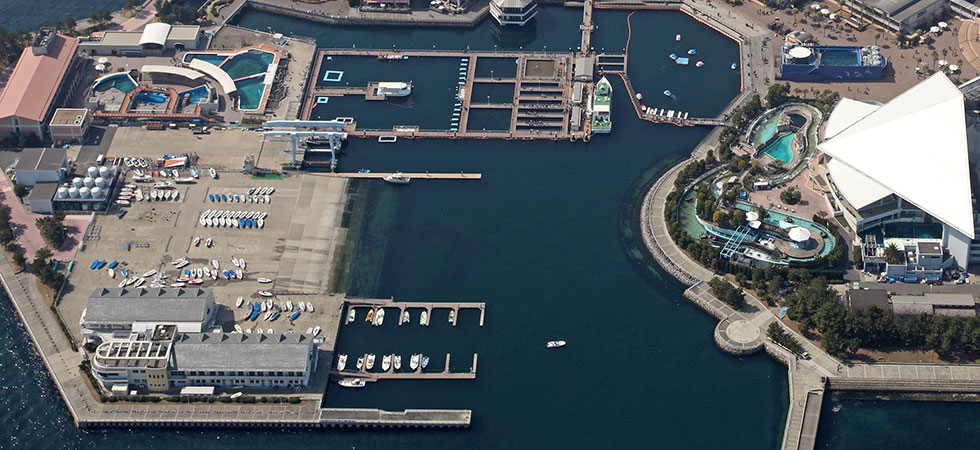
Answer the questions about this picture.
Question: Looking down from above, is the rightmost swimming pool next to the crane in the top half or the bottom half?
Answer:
top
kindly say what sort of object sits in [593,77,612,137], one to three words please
ship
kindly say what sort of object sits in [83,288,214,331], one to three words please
building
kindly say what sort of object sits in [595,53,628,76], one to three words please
pier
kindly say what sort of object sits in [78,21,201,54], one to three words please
building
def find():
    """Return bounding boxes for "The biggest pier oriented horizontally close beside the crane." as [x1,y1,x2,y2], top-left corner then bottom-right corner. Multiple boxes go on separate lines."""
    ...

[303,48,583,140]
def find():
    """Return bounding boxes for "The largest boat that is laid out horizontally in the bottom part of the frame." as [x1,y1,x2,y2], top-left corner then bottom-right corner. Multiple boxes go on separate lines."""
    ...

[338,379,367,392]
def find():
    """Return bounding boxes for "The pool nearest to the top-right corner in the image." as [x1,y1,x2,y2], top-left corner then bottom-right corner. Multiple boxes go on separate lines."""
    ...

[821,49,858,66]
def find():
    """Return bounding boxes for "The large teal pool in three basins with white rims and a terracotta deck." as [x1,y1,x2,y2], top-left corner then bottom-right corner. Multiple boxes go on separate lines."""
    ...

[182,44,284,119]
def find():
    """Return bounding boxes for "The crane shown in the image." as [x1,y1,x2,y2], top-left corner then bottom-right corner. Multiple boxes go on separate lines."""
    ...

[262,118,350,171]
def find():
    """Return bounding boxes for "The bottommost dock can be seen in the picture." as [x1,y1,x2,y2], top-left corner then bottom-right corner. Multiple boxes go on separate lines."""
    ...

[322,408,471,432]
